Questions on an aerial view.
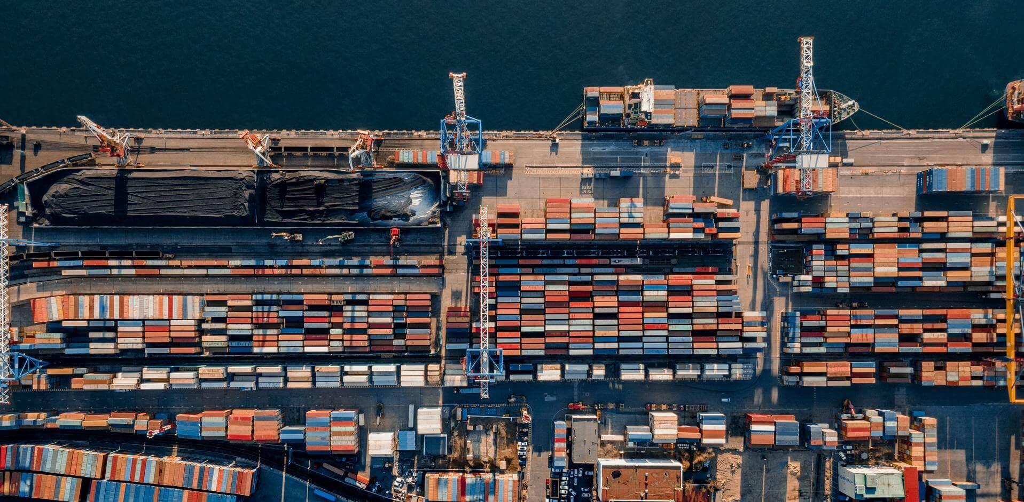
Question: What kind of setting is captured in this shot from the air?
port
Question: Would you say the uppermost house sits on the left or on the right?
left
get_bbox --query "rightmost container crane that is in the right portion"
[992,196,1024,402]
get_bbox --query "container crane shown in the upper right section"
[759,35,836,199]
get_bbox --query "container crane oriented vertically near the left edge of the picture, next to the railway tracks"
[0,207,62,398]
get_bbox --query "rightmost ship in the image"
[1003,80,1024,125]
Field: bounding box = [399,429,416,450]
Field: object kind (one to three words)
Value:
shed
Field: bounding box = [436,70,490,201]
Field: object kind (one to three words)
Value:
container crane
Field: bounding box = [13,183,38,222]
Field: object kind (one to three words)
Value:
house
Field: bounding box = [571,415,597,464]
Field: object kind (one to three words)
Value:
building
